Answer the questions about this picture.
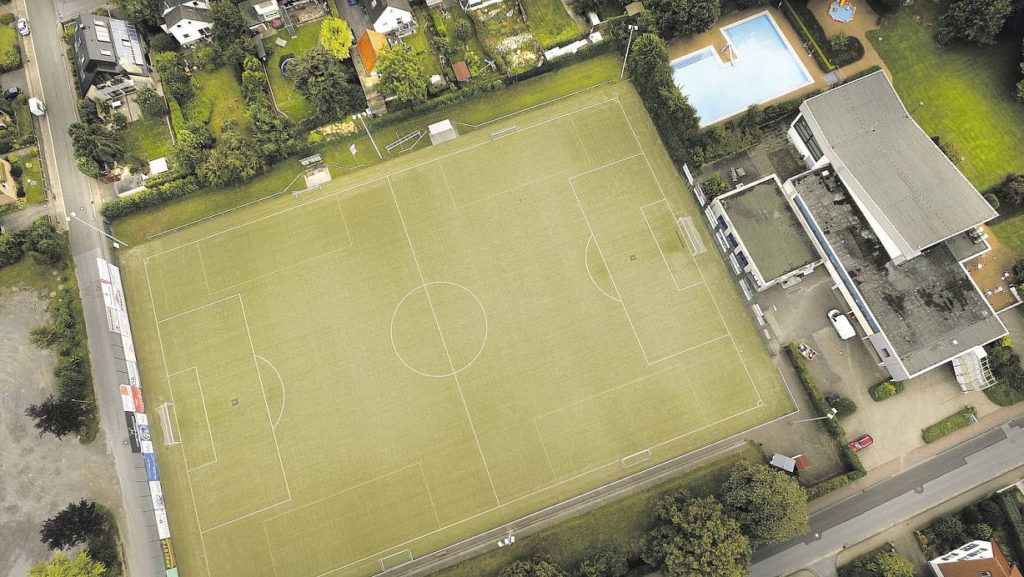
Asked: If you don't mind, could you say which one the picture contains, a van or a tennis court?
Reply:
van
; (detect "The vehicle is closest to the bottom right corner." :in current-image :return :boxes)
[850,434,876,451]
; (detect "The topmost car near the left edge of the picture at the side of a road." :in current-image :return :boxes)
[16,17,30,35]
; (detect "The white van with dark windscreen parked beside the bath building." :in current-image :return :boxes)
[827,311,859,342]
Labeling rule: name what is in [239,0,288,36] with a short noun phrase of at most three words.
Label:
house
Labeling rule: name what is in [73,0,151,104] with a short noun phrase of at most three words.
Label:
house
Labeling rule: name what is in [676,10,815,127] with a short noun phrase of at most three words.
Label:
swimming pool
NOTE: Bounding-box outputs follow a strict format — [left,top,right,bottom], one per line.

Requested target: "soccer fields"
[118,77,796,577]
